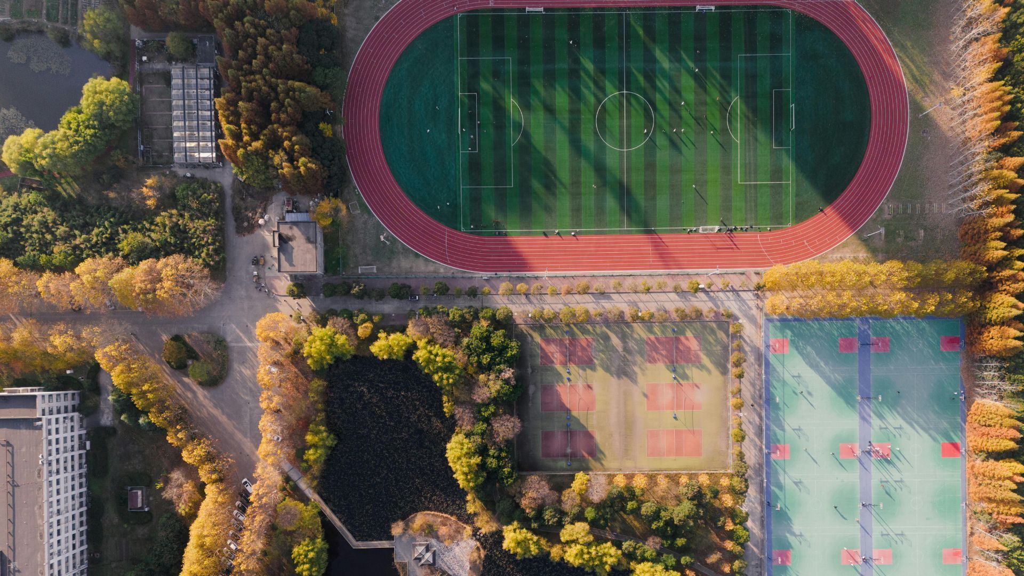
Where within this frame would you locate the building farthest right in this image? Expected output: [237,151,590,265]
[412,539,437,566]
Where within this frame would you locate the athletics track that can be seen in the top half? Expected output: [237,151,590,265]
[341,0,909,274]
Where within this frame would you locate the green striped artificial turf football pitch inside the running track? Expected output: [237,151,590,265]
[379,5,871,236]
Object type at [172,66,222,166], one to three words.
greenhouse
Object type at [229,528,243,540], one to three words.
vehicle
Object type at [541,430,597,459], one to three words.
sports court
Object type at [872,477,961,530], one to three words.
basketball court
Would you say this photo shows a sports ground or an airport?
sports ground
